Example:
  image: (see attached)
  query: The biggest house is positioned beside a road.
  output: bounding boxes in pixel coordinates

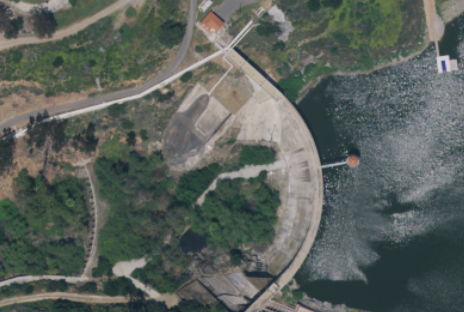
[199,10,224,35]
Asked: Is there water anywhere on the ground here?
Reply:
Yes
